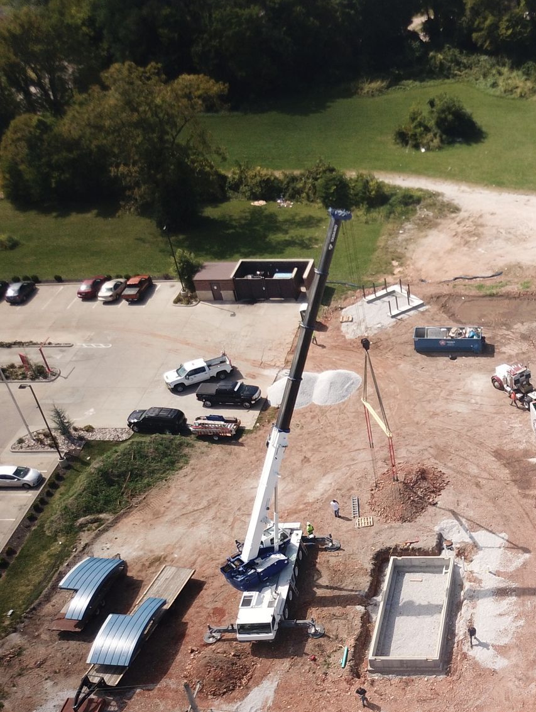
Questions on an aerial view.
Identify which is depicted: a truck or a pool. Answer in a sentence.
Looking from above, you can make out a truck.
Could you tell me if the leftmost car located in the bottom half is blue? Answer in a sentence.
No, the leftmost car located in the bottom half is actually white.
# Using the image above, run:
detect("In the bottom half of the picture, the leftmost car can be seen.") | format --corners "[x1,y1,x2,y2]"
[0,460,39,487]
